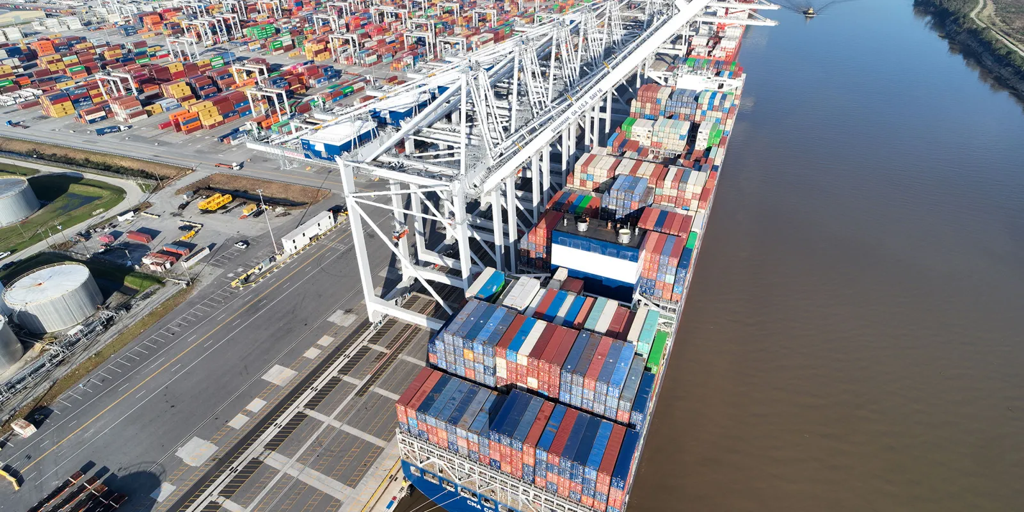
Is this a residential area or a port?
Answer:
port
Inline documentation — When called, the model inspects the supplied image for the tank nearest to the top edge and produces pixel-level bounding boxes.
[0,174,42,226]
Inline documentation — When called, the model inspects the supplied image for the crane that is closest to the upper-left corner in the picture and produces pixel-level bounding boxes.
[94,70,146,106]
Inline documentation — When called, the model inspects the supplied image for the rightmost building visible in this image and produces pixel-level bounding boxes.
[279,211,334,253]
